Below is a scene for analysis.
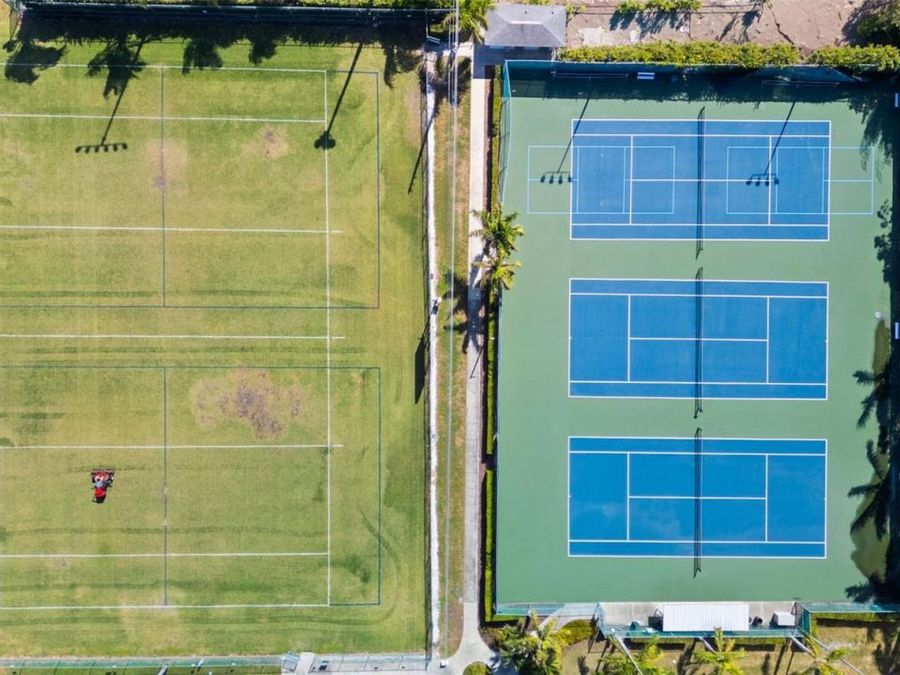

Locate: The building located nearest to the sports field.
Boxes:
[484,4,566,52]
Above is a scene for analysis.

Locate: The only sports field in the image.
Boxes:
[0,22,427,657]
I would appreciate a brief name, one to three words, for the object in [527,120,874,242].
tennis court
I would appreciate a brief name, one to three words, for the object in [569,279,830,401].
tennis court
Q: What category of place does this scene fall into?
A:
sports ground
